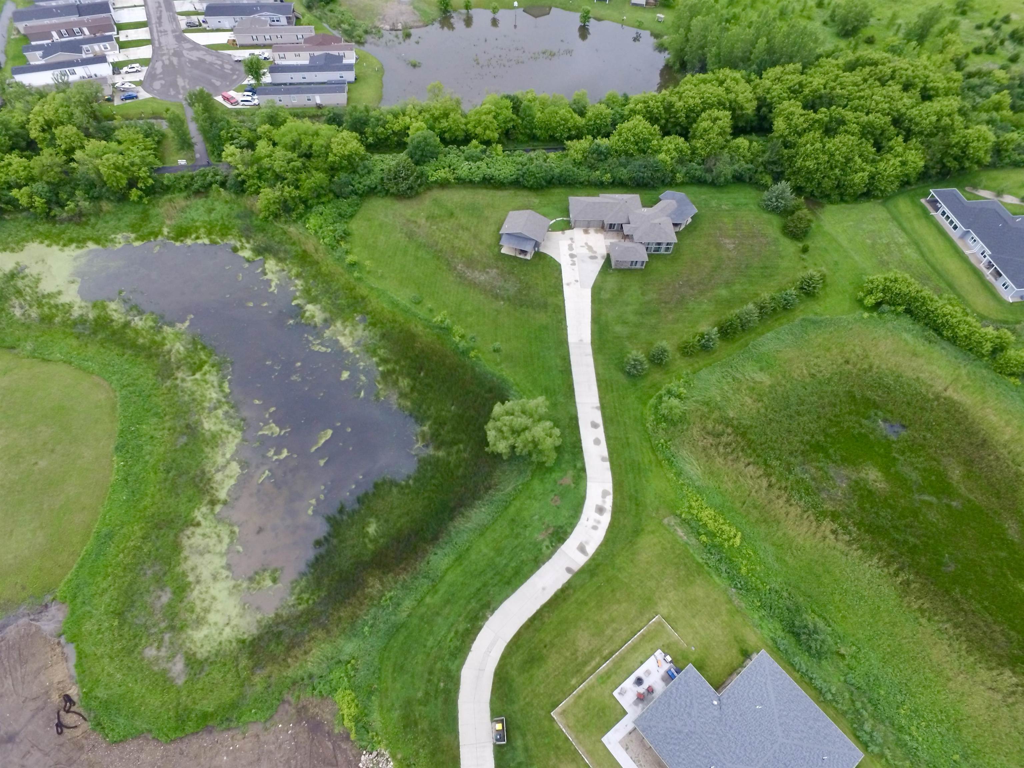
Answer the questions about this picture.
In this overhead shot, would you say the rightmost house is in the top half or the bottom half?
top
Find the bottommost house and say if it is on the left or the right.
right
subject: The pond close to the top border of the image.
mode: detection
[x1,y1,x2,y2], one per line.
[342,8,671,117]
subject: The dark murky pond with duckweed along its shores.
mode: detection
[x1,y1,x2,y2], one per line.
[0,244,415,612]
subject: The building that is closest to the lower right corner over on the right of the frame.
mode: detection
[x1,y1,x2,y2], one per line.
[633,649,864,768]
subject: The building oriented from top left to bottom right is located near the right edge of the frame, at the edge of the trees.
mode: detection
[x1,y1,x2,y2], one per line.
[925,188,1024,297]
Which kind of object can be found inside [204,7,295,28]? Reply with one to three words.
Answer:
house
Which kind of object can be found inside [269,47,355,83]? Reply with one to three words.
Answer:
house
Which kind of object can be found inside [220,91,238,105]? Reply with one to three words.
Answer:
vehicle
